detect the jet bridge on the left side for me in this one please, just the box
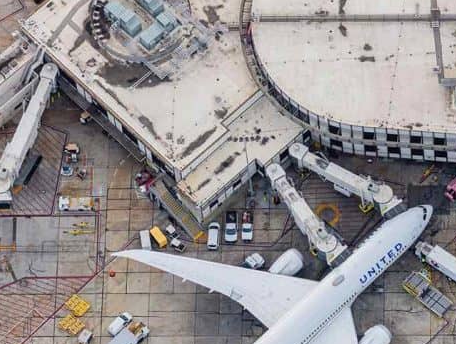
[0,64,60,217]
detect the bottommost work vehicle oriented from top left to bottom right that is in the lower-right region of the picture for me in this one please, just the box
[401,267,456,320]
